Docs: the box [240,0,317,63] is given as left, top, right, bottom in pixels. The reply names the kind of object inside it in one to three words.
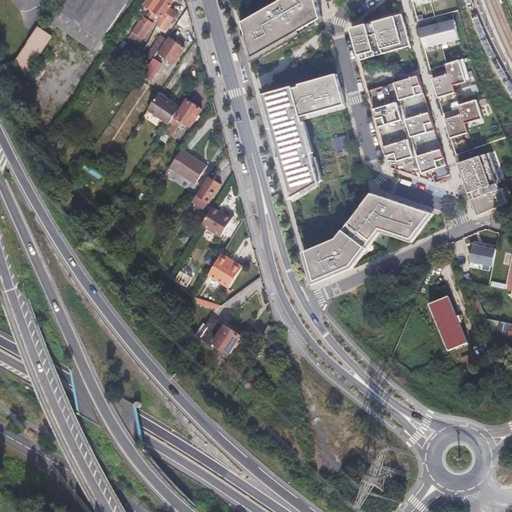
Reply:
building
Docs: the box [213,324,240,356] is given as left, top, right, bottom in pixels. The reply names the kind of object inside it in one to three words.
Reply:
house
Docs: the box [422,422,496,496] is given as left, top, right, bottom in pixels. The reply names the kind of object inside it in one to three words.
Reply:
roundabout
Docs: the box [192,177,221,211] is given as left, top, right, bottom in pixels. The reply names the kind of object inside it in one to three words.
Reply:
house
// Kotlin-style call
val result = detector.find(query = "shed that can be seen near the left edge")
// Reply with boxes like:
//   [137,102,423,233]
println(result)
[16,26,52,70]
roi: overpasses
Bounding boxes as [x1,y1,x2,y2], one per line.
[0,222,126,512]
